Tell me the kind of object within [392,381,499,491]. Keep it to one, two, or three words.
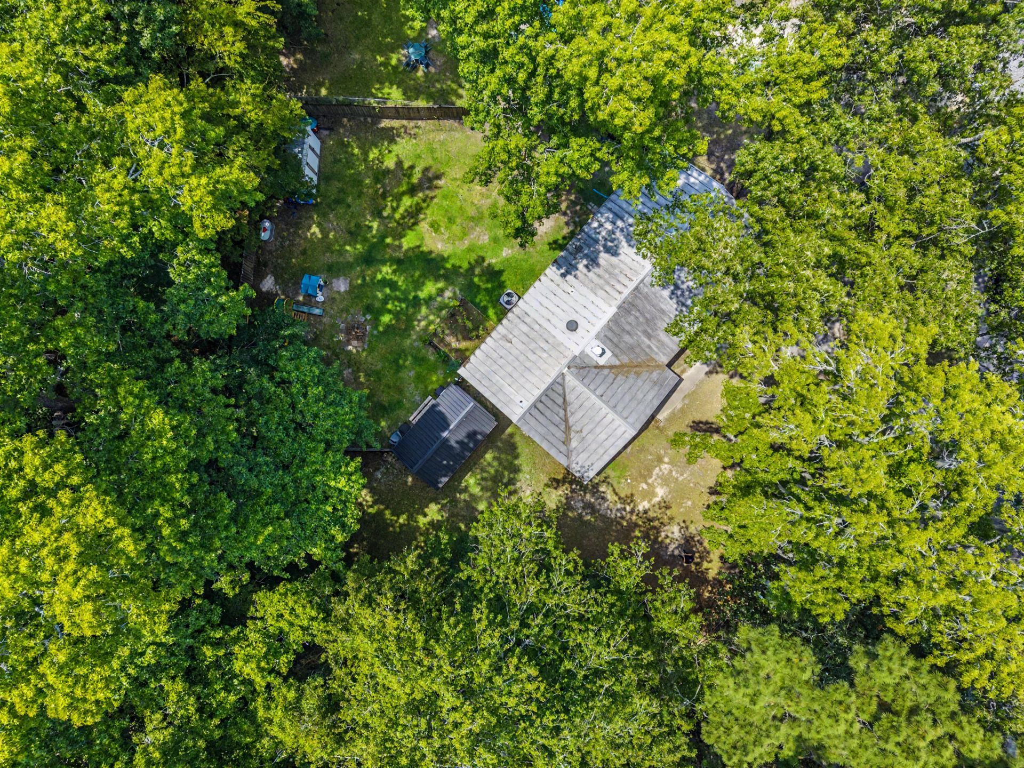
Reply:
shed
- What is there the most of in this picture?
trees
